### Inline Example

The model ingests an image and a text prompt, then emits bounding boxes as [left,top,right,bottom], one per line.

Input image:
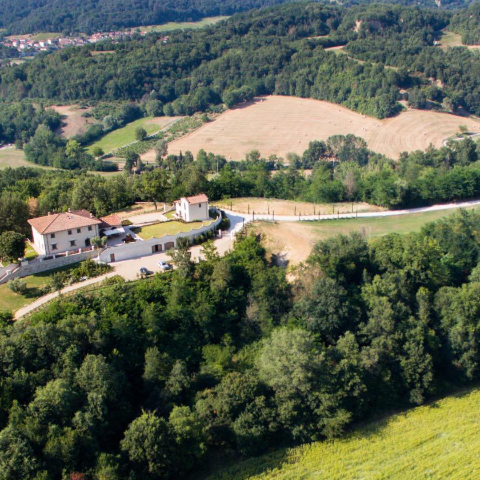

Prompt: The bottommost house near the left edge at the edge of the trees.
[24,205,103,255]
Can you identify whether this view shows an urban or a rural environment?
rural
